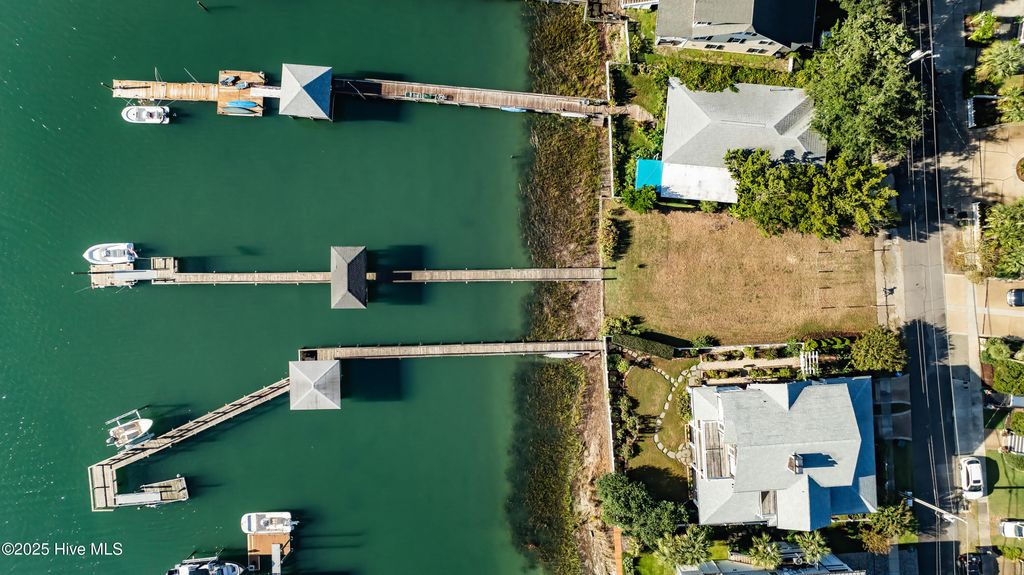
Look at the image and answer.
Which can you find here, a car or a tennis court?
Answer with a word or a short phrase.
car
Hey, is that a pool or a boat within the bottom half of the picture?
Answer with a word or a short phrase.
boat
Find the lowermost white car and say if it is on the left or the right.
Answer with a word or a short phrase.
right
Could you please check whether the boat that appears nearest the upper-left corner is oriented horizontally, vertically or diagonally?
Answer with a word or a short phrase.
horizontally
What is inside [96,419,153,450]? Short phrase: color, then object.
white boat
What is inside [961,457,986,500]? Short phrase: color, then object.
white car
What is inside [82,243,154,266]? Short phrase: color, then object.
white boat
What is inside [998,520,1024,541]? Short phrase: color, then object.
white car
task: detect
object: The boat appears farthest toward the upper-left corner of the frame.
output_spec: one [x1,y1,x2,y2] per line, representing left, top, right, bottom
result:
[121,105,182,126]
